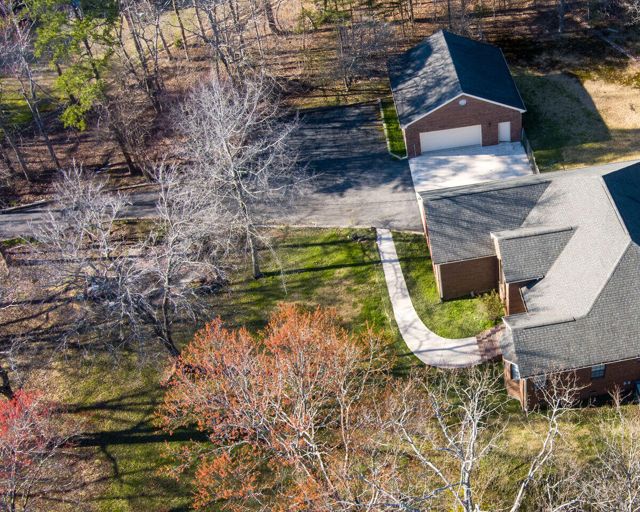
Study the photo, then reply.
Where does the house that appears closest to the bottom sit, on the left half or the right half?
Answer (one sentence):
The house that appears closest to the bottom appears in the right half of the scene.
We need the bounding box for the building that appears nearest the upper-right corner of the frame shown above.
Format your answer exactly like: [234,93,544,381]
[384,29,528,158]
